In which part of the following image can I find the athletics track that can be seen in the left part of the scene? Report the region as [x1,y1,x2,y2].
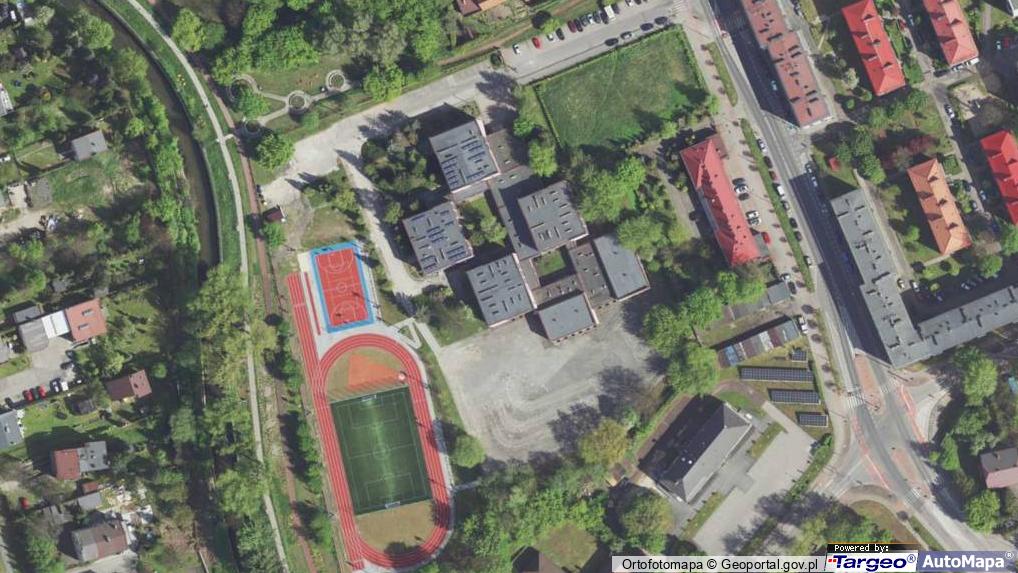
[286,272,450,569]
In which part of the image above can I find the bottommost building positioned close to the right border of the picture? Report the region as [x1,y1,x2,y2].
[980,447,1018,488]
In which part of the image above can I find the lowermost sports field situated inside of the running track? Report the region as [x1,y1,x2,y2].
[355,500,435,553]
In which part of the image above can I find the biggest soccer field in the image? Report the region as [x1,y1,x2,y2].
[331,387,431,516]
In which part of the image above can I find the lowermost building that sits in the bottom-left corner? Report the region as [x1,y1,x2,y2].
[72,520,129,561]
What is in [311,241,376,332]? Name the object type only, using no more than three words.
sports court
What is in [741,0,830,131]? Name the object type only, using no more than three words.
building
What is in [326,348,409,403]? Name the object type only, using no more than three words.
sports field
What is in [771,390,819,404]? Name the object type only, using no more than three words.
solar array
